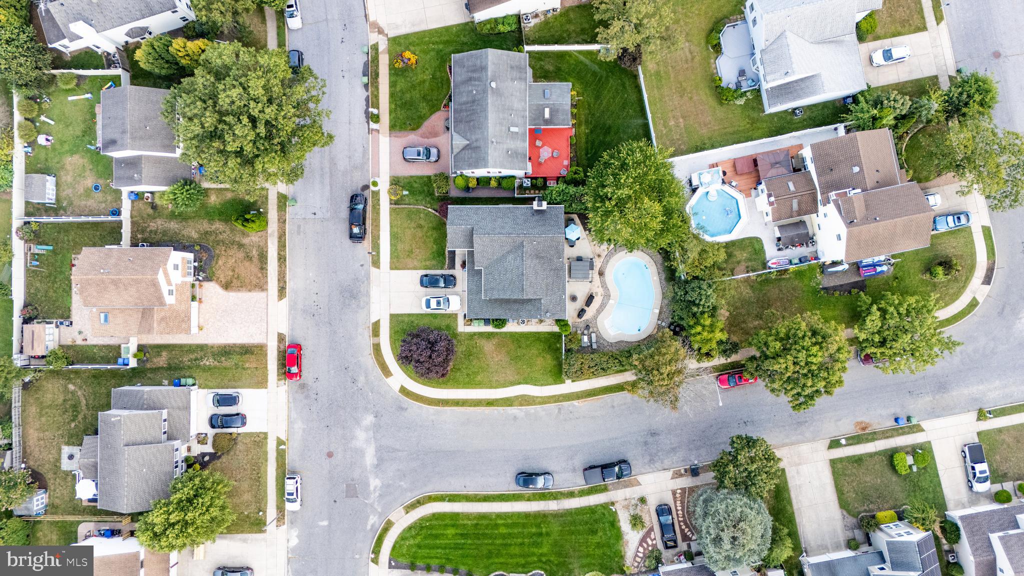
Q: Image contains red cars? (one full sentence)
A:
Yes, the picture does show a red car.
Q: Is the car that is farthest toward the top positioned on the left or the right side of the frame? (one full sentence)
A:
The car that is farthest toward the top appears in the left half of the scene.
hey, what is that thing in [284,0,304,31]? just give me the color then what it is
white car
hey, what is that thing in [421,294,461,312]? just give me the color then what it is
white car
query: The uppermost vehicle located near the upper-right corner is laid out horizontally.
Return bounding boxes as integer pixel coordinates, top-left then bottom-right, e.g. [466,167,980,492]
[870,45,912,67]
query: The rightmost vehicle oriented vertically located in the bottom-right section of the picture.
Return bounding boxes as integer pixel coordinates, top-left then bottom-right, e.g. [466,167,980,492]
[963,442,991,492]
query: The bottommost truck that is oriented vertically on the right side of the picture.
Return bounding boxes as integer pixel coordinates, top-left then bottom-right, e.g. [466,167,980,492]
[656,503,679,551]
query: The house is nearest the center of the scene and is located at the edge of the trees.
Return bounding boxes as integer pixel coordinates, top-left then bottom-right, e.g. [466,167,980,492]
[445,199,568,319]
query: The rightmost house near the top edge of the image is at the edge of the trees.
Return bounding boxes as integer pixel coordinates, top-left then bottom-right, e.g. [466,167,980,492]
[738,0,883,114]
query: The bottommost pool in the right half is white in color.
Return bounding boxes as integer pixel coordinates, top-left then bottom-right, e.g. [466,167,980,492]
[597,251,662,342]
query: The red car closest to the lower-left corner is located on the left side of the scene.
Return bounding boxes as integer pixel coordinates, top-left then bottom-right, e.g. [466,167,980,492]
[284,344,303,381]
